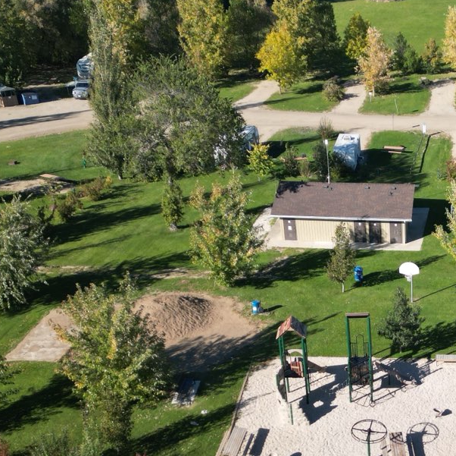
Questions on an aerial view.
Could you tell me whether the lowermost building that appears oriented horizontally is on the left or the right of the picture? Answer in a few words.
right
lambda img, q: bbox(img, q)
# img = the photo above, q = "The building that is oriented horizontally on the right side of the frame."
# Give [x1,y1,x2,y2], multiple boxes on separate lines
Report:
[270,179,422,243]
